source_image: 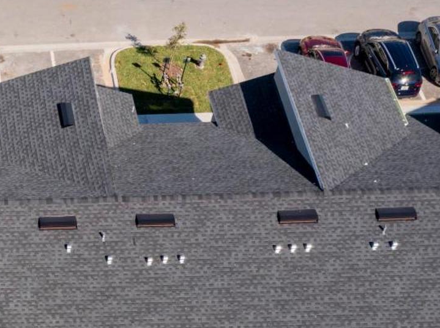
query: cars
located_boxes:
[354,30,428,103]
[301,39,365,74]
[416,19,440,80]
